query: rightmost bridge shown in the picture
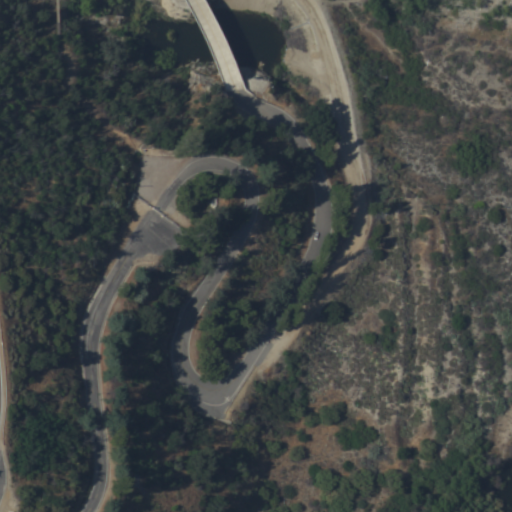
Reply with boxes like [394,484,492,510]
[186,0,254,106]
